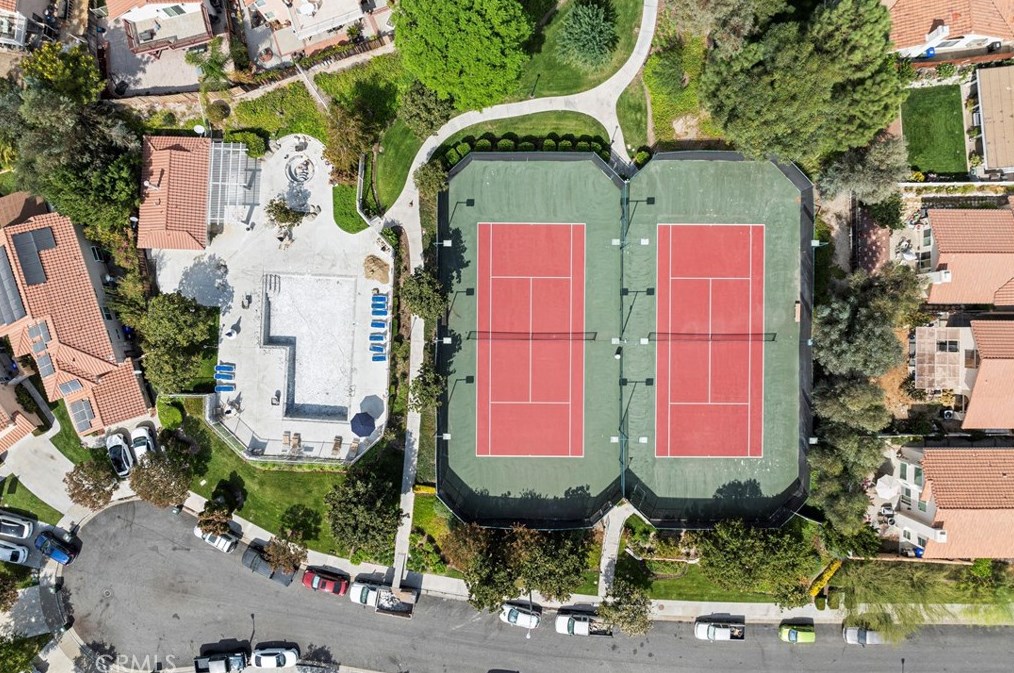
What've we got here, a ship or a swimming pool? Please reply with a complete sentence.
The image shows a swimming pool.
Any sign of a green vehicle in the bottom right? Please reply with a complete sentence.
Yes, looking in the bottom right, one can make out a green vehicle.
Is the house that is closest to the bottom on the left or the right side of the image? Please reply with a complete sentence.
It is on the right.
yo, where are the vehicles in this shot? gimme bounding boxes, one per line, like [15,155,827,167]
[193,650,251,673]
[131,428,157,474]
[777,622,816,645]
[497,602,543,628]
[190,522,243,558]
[840,623,890,647]
[350,582,417,618]
[105,432,136,480]
[33,529,79,567]
[251,644,300,670]
[555,611,613,637]
[301,567,352,595]
[239,547,299,589]
[692,618,746,643]
[0,539,30,565]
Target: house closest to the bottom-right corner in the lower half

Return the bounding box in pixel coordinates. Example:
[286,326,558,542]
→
[893,442,1014,558]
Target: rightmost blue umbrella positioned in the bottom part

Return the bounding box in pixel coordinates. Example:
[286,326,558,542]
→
[352,412,376,435]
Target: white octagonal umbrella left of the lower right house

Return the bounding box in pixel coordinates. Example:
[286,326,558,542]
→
[872,474,897,498]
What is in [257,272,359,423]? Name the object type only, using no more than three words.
swimming pool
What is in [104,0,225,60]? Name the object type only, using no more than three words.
house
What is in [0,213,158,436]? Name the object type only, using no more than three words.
house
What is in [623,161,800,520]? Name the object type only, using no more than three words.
tennis court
